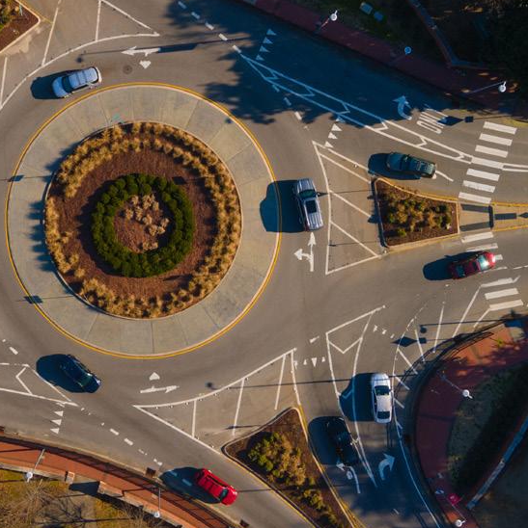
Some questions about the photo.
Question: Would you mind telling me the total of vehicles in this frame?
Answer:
8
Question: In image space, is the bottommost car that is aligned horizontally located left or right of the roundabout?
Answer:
on the right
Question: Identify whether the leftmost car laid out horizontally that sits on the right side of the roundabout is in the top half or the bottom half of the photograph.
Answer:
top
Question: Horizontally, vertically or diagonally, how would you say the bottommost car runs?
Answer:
diagonally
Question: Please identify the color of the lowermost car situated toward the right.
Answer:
black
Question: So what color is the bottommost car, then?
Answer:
red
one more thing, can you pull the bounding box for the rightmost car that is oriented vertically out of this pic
[370,372,395,423]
